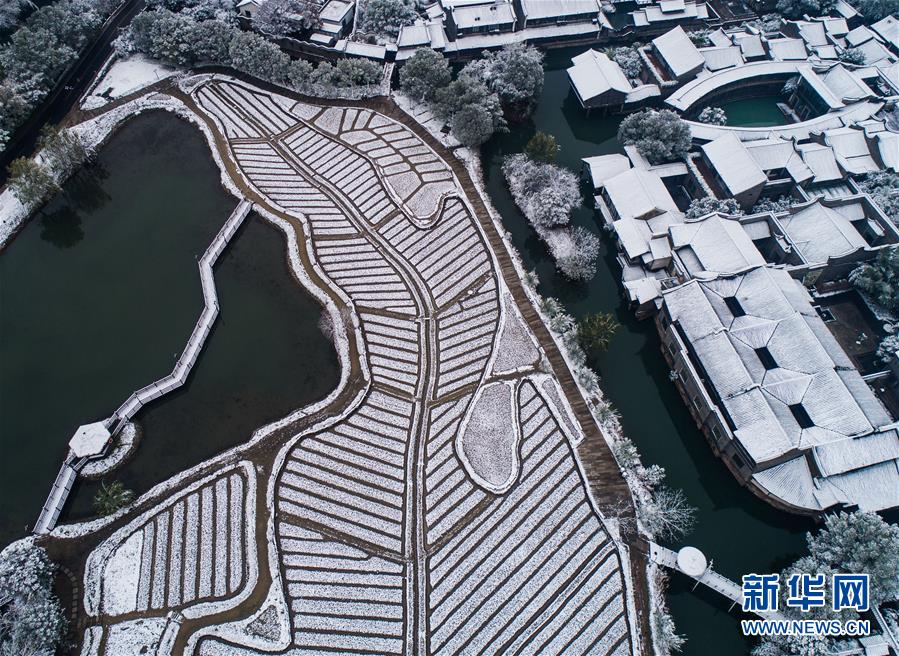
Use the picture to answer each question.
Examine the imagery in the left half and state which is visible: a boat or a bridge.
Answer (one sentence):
There is a bridge in the left half.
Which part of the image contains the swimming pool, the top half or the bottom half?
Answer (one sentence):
It is in the top half that the swimming pool appears.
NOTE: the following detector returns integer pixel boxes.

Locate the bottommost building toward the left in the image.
[68,422,125,471]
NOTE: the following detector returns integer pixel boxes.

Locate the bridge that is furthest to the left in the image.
[25,440,83,532]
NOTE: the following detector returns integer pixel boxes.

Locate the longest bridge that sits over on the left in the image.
[97,192,254,435]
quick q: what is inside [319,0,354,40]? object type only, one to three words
house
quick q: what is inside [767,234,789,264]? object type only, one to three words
shed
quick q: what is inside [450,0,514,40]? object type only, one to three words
building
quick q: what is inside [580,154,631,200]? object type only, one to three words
building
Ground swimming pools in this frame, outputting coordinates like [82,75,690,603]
[688,91,795,127]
